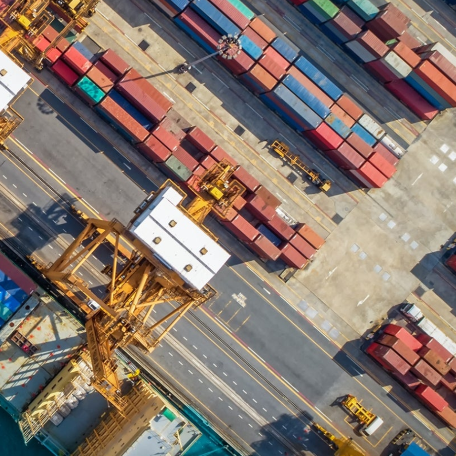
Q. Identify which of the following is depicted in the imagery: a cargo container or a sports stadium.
cargo container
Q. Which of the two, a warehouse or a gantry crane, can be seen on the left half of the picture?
gantry crane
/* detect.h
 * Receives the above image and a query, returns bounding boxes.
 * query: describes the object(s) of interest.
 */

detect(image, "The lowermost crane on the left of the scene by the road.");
[32,160,257,432]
